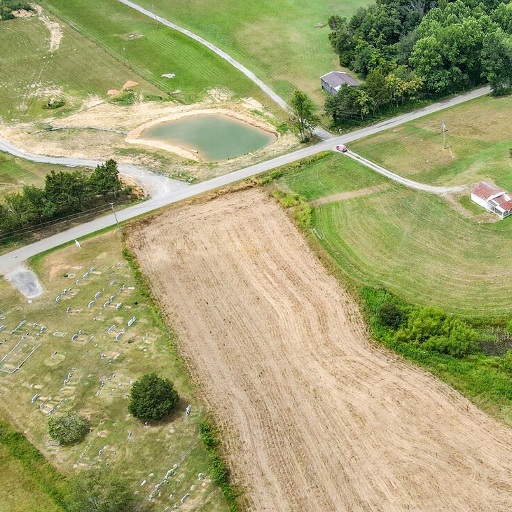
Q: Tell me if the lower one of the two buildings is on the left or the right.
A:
right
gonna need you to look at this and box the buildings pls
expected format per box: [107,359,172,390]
[318,70,359,98]
[466,179,512,219]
